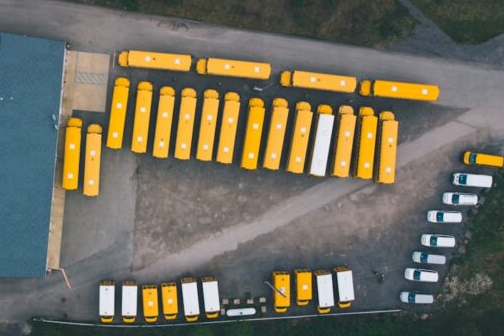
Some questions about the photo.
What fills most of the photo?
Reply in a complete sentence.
The bulk of the photo consists of paved ground.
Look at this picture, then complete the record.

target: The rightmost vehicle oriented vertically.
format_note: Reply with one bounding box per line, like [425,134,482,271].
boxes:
[372,110,398,184]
